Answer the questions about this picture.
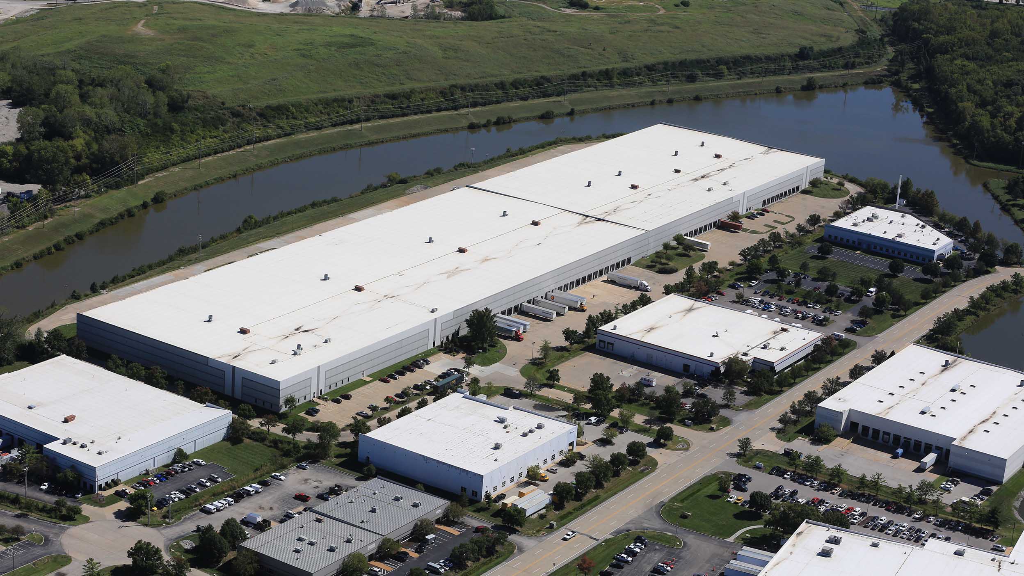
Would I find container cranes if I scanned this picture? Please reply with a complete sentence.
No, I can see no container crane in this picture.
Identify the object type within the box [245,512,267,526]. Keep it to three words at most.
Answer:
vehicle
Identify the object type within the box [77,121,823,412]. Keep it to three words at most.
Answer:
warehouse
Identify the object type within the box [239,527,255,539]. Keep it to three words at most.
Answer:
vehicle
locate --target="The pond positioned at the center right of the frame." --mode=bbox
[960,298,1024,370]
